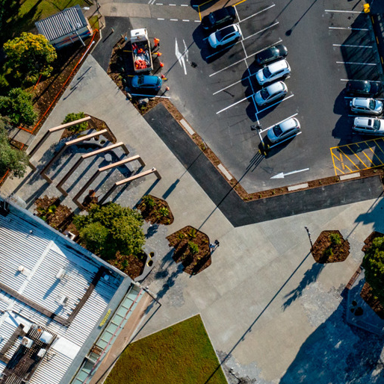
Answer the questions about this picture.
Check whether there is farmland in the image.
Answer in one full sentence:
No, the scene doesn't show any farmland.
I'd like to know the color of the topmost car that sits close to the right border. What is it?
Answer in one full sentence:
The topmost car that sits close to the right border looks black in the image.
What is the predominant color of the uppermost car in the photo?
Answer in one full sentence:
The color of the uppermost car is black.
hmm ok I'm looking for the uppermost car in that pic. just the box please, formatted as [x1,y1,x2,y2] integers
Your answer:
[201,5,238,32]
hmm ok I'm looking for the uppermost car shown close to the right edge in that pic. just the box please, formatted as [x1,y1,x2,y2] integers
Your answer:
[344,79,383,99]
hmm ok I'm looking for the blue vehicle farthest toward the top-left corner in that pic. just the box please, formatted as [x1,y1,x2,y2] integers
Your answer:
[130,76,163,95]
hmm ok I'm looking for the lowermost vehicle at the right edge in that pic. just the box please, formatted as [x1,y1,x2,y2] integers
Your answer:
[351,116,384,134]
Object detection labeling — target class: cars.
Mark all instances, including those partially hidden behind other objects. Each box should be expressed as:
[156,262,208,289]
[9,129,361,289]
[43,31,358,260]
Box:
[207,23,244,50]
[252,82,289,109]
[130,76,163,95]
[252,43,292,68]
[344,79,383,99]
[264,118,302,144]
[351,116,384,134]
[201,5,238,32]
[253,57,292,85]
[347,96,384,116]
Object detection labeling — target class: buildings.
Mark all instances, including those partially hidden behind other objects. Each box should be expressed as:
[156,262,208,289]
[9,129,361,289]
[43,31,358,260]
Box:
[35,6,99,58]
[0,195,145,384]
